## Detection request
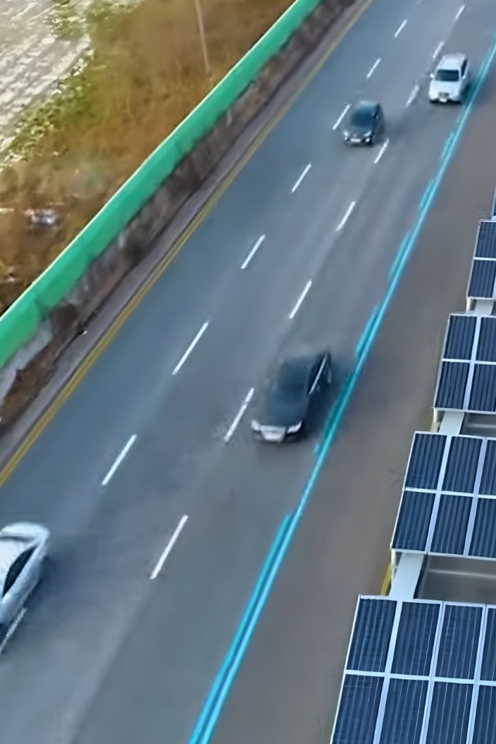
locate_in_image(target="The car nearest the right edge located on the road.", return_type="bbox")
[430,54,471,100]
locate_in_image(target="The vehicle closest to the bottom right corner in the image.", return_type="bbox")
[254,352,330,442]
